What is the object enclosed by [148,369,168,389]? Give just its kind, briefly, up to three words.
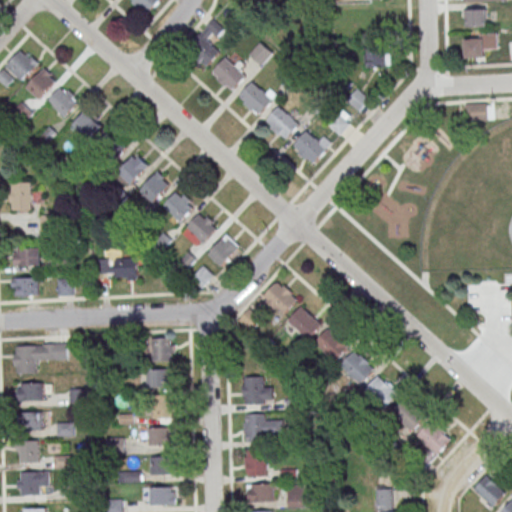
house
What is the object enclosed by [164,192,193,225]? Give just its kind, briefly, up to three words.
house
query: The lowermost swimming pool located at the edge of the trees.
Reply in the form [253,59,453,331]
[126,456,140,470]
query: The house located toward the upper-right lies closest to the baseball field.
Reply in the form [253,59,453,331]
[466,102,496,122]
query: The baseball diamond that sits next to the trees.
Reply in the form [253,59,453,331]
[420,116,512,271]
